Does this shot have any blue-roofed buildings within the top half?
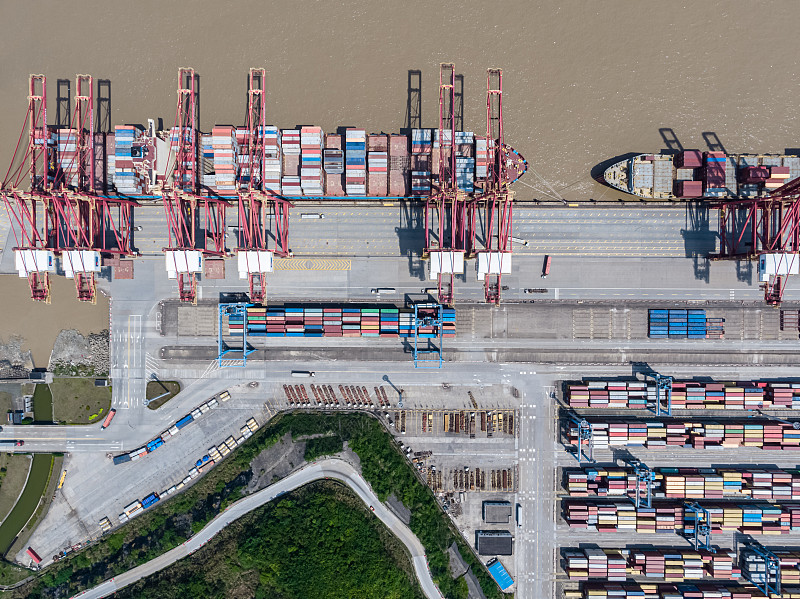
No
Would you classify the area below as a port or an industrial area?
port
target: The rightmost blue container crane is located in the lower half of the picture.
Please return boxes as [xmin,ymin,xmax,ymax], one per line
[735,537,781,594]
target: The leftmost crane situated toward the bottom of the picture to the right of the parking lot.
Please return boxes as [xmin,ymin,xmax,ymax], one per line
[562,414,593,461]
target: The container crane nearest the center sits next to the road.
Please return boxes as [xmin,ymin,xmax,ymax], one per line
[409,302,445,368]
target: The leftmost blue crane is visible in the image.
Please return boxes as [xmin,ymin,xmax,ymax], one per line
[218,302,259,368]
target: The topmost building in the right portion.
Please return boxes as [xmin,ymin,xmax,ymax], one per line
[482,501,512,523]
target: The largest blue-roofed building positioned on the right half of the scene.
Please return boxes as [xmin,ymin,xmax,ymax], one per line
[488,558,514,591]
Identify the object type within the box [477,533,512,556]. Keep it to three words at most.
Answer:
building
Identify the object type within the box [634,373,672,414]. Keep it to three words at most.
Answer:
container crane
